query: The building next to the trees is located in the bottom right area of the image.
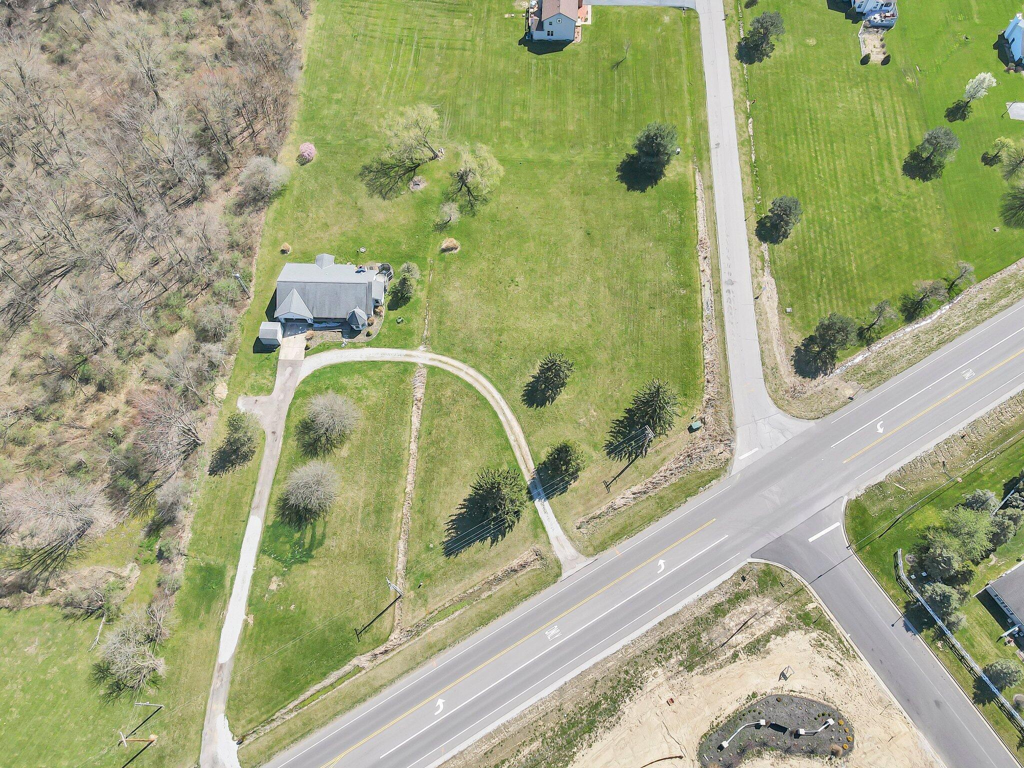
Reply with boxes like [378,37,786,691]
[982,561,1024,639]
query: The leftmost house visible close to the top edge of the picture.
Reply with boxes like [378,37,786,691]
[532,0,577,41]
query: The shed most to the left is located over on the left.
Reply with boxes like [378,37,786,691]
[258,321,284,345]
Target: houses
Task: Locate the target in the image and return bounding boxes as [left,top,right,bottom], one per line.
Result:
[982,561,1024,639]
[532,0,577,41]
[844,0,895,17]
[273,250,390,344]
[998,16,1024,59]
